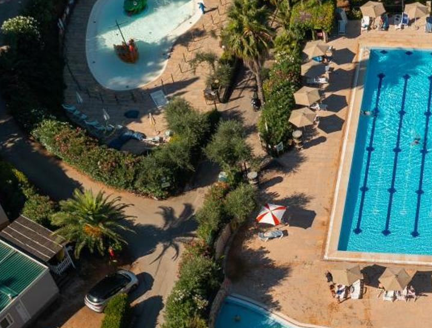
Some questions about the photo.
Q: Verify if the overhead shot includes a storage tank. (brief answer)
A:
No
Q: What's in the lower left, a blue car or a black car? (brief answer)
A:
black car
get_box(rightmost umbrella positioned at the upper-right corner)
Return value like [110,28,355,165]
[401,2,432,20]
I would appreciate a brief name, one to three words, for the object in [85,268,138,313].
car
